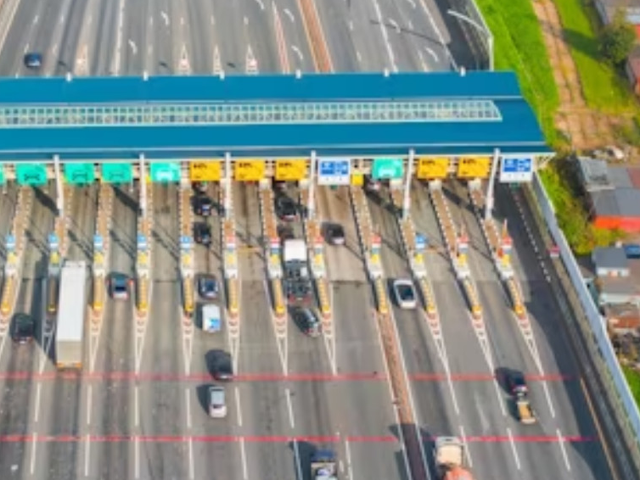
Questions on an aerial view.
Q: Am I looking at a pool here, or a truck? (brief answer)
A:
truck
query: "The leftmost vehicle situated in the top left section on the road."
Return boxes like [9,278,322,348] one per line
[24,48,41,70]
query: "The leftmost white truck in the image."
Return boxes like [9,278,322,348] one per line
[54,251,88,365]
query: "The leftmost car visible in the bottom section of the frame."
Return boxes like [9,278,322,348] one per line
[12,313,35,344]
